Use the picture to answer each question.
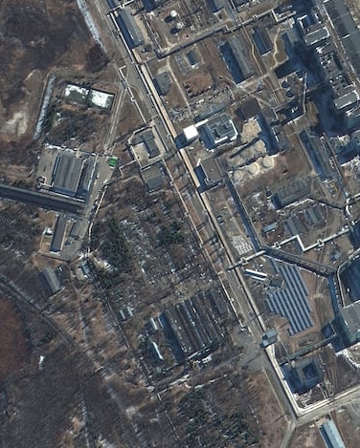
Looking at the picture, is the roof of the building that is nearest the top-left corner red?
No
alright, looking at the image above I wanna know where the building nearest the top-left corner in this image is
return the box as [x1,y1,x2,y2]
[120,7,144,48]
